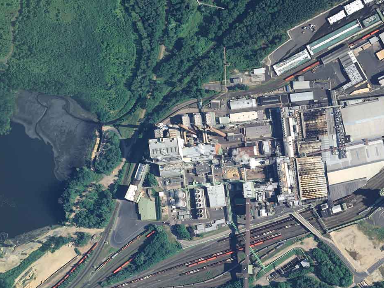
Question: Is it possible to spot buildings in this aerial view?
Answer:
Yes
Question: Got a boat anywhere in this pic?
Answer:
No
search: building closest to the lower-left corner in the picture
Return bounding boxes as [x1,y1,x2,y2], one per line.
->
[138,197,159,221]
